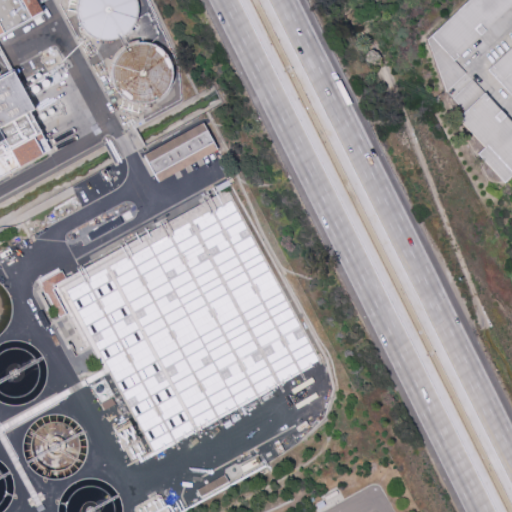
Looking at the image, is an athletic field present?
No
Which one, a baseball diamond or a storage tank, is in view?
storage tank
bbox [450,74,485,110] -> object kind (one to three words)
building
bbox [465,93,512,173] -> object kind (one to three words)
building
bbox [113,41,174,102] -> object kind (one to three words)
storage tank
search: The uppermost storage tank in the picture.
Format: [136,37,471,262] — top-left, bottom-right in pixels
[78,0,140,40]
